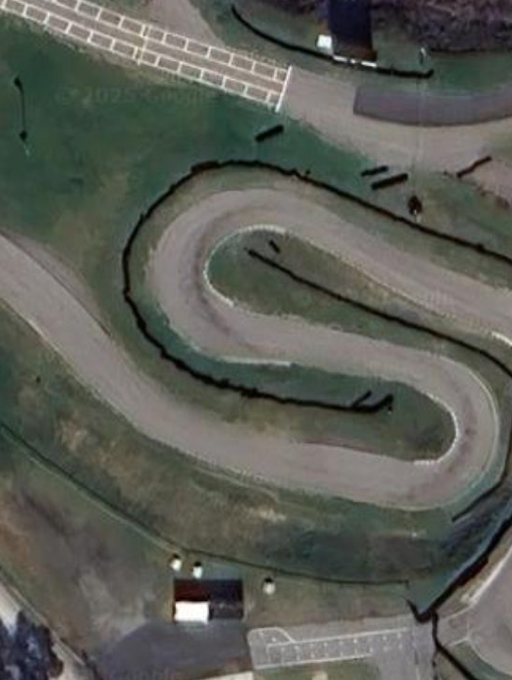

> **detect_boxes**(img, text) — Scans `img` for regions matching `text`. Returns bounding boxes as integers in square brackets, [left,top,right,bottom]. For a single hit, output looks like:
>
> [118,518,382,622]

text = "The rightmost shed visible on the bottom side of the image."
[207,596,242,621]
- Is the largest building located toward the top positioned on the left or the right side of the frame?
right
